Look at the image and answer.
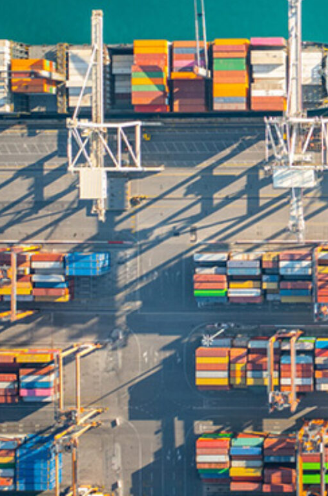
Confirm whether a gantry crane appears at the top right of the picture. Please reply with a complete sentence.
Yes, the scene does show a gantry crane at the top right of the picture.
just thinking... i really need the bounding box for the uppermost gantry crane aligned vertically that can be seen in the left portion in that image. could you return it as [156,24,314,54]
[70,8,170,219]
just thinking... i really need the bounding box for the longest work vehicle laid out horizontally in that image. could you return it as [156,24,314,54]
[127,191,151,206]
